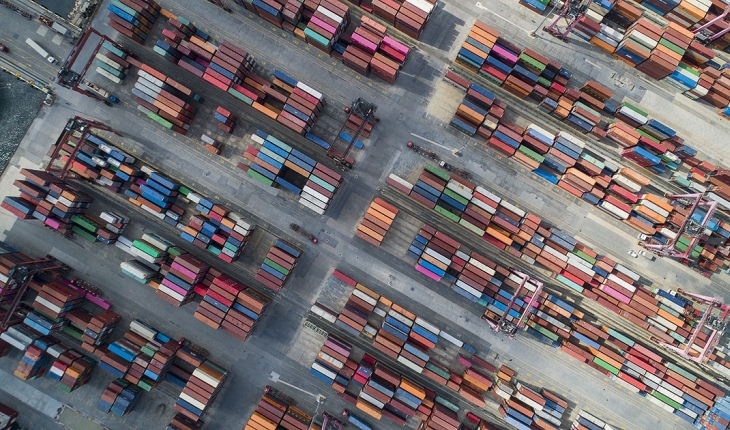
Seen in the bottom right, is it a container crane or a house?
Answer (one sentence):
It is a container crane that can be seen in the bottom right.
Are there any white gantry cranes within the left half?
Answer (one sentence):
No, no white gantry crane appears within the left half.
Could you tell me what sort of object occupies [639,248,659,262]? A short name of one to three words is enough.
vehicle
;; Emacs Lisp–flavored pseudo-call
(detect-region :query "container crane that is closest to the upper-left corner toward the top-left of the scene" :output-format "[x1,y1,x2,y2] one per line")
[53,24,135,103]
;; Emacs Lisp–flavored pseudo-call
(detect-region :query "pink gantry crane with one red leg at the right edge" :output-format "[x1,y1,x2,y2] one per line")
[649,289,730,364]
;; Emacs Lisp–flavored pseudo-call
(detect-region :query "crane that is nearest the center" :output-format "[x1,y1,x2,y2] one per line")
[327,94,379,168]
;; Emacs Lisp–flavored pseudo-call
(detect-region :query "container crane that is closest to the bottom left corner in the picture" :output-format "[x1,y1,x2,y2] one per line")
[0,257,71,328]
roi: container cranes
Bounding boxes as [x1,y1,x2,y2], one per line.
[478,266,542,339]
[0,257,71,328]
[42,113,122,182]
[327,94,379,168]
[53,24,135,103]
[634,193,716,257]
[649,289,730,364]
[692,14,730,49]
[543,0,597,42]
